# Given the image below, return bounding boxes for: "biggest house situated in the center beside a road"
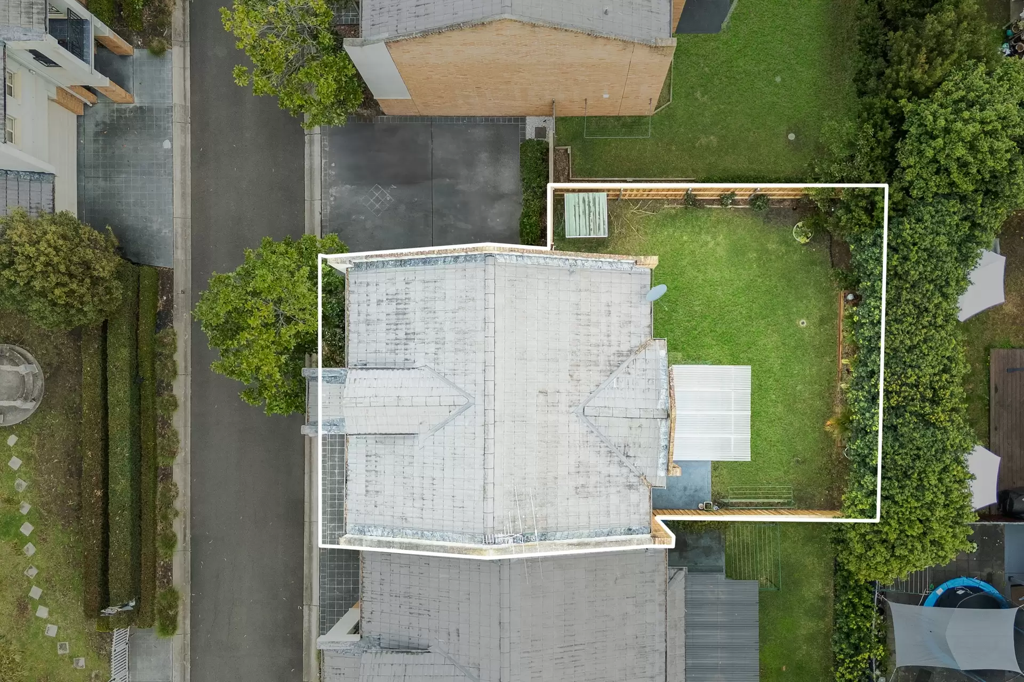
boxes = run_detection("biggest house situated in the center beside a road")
[301,254,682,544]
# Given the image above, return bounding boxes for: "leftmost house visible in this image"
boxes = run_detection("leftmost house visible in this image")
[0,0,110,237]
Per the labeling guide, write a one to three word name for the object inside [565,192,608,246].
shed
